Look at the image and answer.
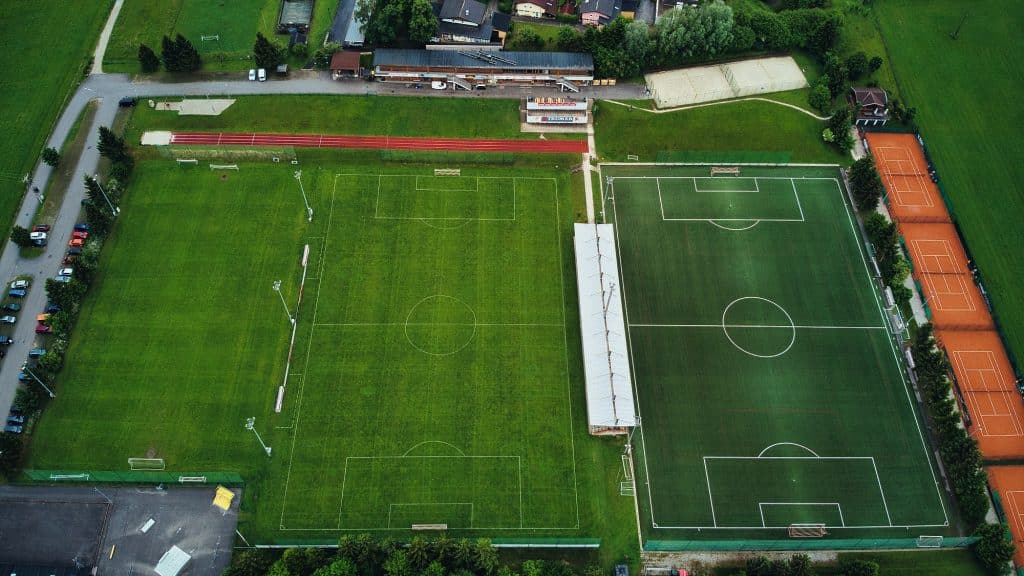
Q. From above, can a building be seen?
Yes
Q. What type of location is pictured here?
sports ground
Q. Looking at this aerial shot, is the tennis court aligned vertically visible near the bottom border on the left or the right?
right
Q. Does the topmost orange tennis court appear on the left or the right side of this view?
right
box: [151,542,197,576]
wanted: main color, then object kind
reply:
white tent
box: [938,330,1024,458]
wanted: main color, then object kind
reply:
orange tennis court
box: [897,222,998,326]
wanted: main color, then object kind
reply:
orange tennis court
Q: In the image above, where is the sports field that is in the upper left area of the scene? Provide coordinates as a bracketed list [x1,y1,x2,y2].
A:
[112,0,267,58]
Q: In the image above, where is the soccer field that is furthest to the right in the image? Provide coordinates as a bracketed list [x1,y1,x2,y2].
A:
[597,163,973,549]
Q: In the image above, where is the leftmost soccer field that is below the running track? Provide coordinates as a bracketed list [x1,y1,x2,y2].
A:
[262,162,637,551]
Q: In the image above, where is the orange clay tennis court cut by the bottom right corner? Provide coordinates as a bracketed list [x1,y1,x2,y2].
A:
[989,463,1024,555]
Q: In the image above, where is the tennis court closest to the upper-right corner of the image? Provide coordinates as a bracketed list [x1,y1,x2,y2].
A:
[863,133,952,219]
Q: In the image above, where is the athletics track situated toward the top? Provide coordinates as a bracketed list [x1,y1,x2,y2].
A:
[167,134,589,152]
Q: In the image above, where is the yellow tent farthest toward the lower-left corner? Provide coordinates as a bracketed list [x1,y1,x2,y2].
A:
[210,484,236,512]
